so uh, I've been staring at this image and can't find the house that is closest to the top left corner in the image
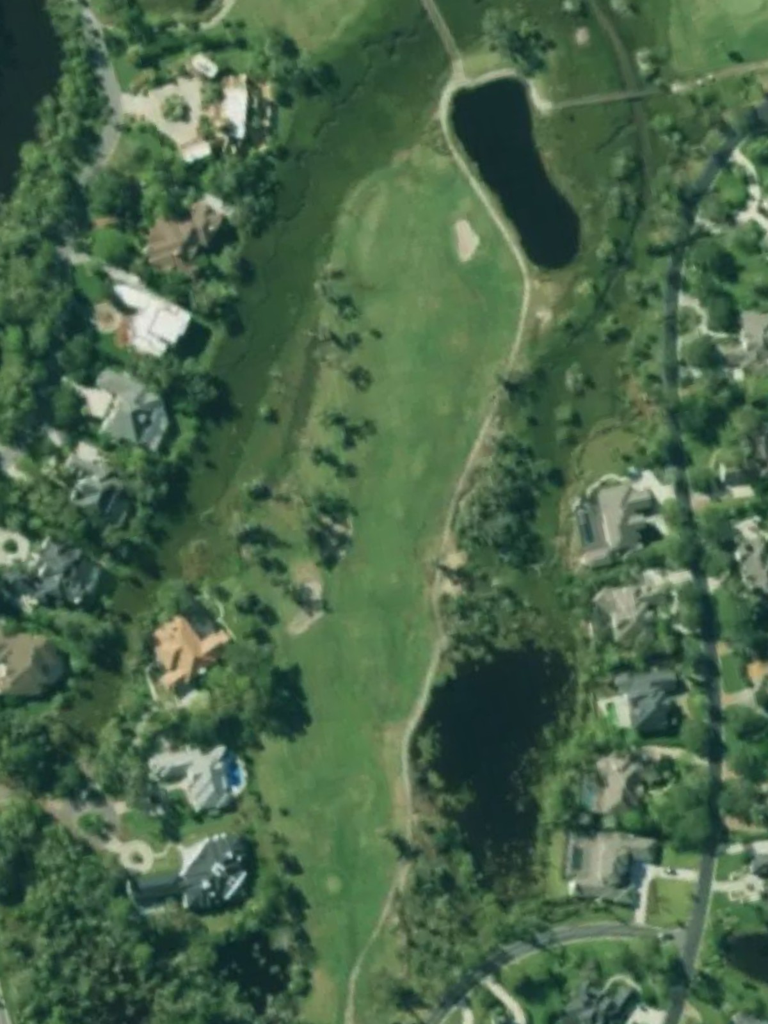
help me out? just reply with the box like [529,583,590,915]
[188,49,221,79]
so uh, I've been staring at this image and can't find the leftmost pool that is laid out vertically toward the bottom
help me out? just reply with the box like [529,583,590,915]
[227,755,243,786]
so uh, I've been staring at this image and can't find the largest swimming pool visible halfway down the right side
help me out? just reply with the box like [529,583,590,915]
[580,508,596,544]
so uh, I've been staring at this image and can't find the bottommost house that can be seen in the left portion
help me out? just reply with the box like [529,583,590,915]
[132,830,254,913]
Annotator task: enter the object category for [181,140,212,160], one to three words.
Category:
building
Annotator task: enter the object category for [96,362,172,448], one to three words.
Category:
house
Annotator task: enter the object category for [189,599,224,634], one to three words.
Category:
swimming pool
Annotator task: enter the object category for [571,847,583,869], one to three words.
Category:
swimming pool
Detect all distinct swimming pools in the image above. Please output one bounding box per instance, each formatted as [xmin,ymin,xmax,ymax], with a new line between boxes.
[189,599,224,634]
[227,755,243,786]
[580,508,596,544]
[571,847,583,869]
[606,702,620,729]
